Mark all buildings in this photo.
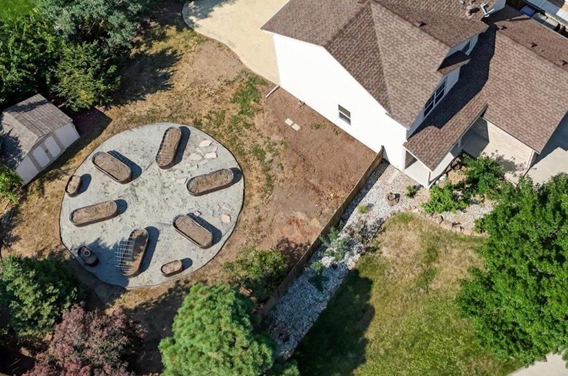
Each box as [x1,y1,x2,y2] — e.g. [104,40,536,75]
[259,0,568,189]
[0,88,84,182]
